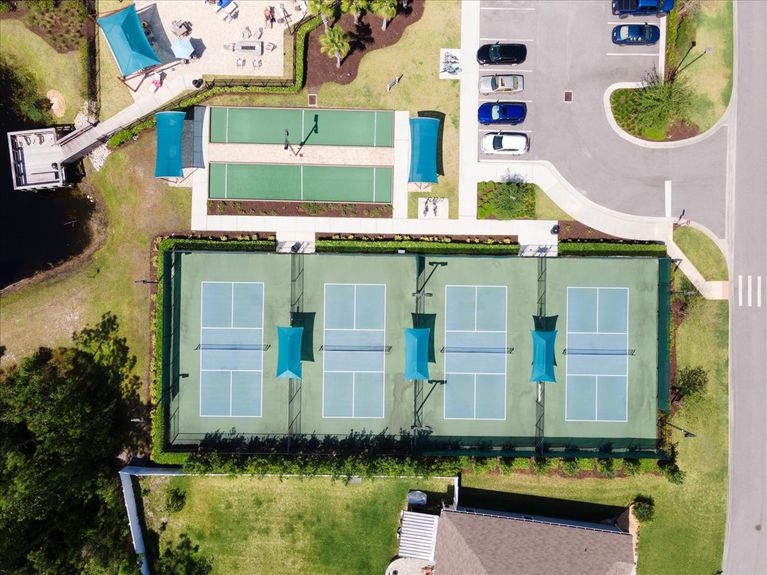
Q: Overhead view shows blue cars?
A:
Yes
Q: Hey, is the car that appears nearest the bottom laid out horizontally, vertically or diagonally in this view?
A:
horizontally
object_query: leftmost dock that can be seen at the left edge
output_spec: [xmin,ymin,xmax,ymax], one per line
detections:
[6,127,70,192]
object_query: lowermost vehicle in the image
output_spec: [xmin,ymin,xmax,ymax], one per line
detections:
[480,131,529,155]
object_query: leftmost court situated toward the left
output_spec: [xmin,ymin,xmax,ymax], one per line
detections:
[169,253,294,446]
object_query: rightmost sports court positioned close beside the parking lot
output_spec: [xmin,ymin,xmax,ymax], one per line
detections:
[536,258,658,451]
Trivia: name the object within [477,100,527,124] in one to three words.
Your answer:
car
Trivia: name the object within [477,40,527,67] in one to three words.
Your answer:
car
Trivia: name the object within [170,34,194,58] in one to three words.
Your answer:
umbrella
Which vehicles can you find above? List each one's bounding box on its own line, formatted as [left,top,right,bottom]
[614,0,676,20]
[477,40,527,67]
[610,22,658,47]
[477,100,527,124]
[480,131,529,155]
[478,71,524,94]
